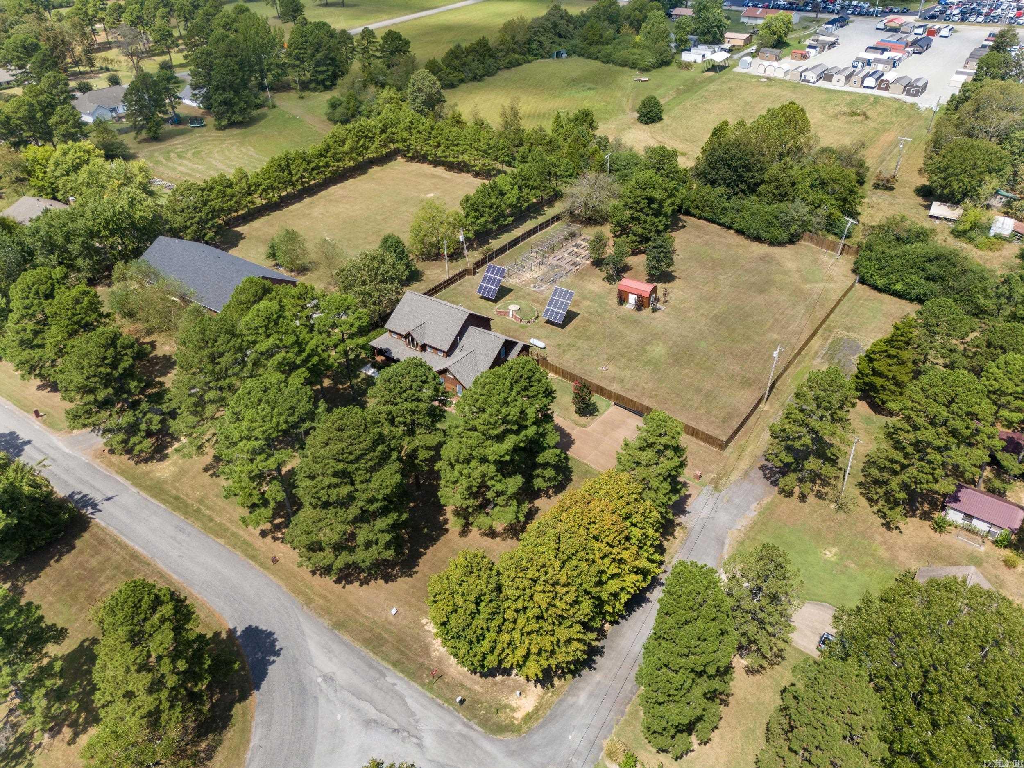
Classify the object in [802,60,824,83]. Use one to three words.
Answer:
shed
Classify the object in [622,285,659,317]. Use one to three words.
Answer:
shed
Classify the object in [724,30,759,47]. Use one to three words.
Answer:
house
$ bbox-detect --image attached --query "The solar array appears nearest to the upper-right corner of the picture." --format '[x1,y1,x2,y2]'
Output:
[542,288,572,325]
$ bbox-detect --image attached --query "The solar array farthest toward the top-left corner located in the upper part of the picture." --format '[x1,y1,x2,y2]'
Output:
[478,265,505,299]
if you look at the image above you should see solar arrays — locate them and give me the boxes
[478,265,505,299]
[542,288,572,325]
